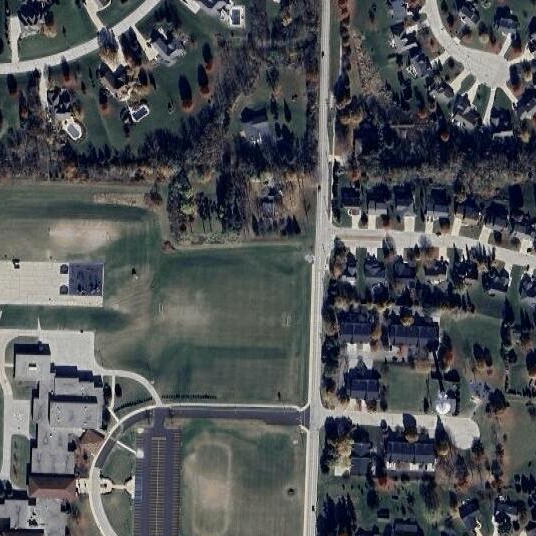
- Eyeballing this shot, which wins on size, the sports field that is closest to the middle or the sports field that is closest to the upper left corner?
the sports field that is closest to the middle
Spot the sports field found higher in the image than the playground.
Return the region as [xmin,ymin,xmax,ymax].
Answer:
[37,215,121,255]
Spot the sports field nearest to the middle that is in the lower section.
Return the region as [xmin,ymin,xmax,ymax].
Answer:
[158,273,294,388]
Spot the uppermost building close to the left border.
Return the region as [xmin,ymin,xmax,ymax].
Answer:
[15,2,58,27]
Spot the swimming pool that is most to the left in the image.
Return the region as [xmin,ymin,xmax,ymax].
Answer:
[66,122,82,140]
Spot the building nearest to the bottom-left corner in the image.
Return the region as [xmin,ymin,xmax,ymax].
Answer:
[0,354,103,536]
